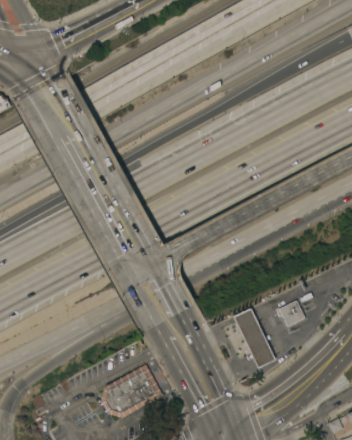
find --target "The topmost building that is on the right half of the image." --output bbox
[276,300,306,326]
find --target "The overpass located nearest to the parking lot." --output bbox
[9,69,209,334]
